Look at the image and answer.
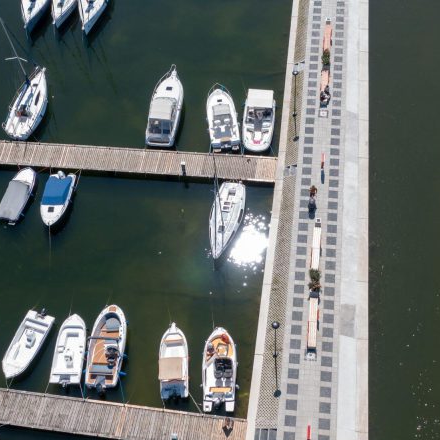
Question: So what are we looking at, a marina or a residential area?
marina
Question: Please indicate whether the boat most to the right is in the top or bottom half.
top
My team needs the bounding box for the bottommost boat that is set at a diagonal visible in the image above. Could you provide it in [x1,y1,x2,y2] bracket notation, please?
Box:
[3,305,55,379]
